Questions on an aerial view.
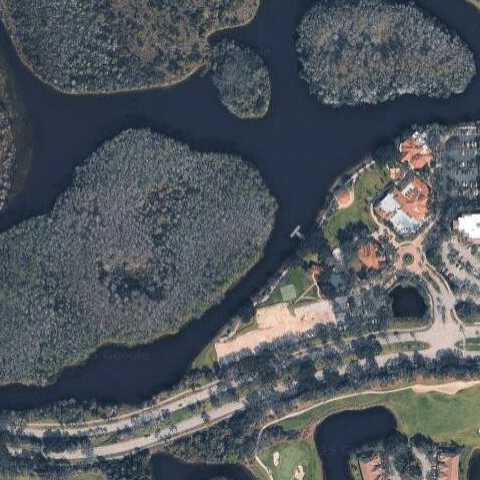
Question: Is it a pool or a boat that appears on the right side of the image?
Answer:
pool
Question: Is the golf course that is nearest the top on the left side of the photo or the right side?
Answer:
right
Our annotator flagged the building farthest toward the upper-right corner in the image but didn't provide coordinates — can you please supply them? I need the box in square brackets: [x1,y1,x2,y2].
[396,131,434,172]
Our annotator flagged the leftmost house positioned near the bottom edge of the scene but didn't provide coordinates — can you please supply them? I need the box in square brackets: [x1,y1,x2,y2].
[358,456,382,480]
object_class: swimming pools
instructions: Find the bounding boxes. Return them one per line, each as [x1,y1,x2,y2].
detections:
[390,207,421,233]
